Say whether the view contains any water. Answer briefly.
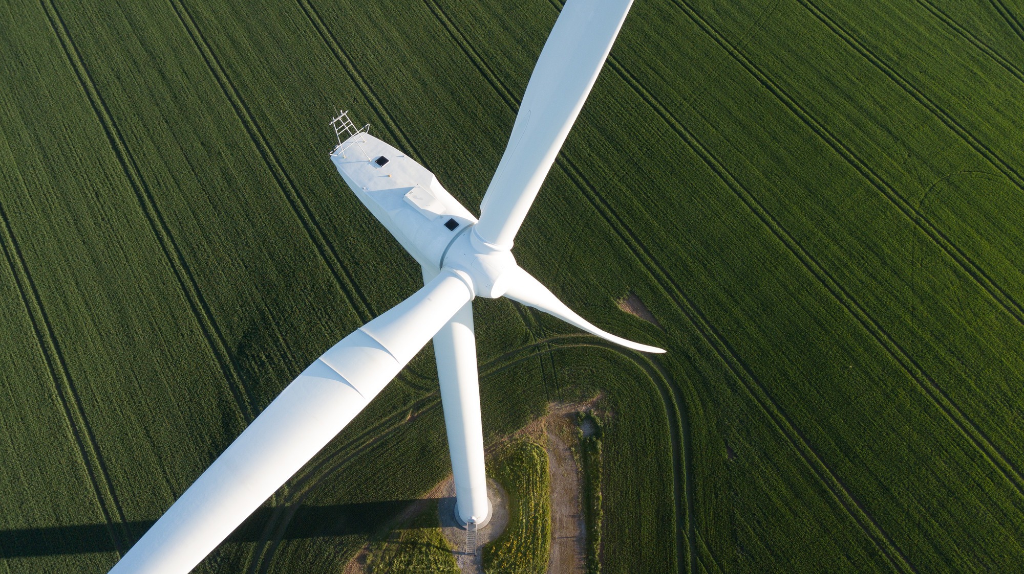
No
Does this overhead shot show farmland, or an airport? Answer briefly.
farmland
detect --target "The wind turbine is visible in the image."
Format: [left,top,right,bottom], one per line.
[113,0,666,574]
